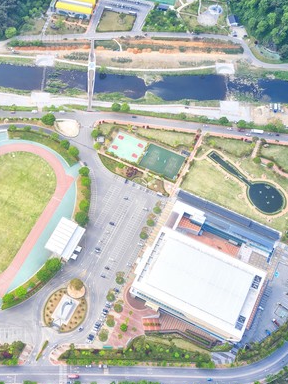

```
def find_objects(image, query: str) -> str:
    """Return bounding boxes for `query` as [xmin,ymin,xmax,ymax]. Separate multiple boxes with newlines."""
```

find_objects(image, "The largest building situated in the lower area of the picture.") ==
[131,201,266,338]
